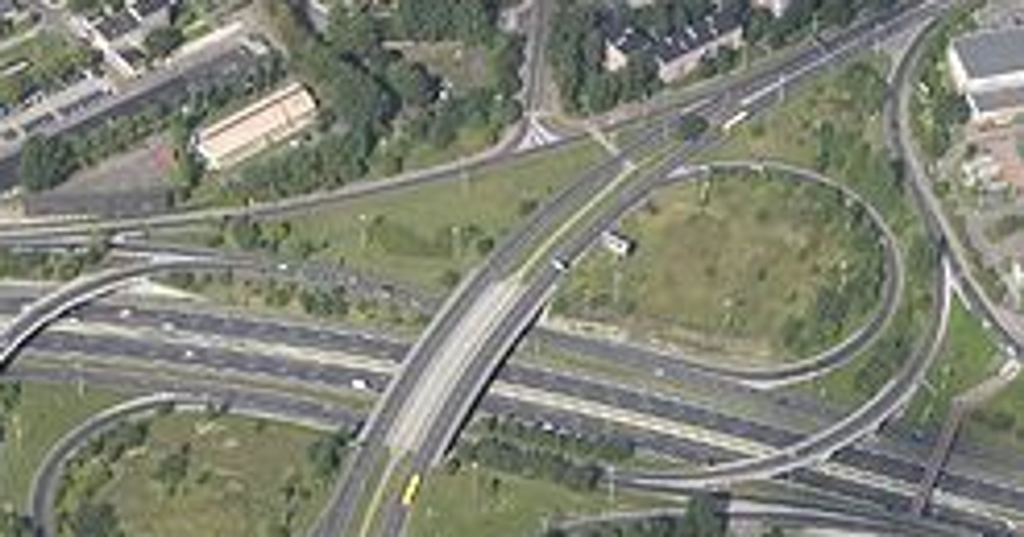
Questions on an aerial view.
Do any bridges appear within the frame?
Yes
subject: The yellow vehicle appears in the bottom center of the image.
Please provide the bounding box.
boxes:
[402,470,422,505]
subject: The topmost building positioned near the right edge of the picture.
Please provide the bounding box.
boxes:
[944,24,1024,99]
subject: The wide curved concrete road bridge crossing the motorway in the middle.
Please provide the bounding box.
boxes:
[359,278,547,451]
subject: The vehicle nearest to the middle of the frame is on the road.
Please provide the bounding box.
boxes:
[553,256,566,269]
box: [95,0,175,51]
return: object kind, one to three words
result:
house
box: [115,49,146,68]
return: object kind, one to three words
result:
building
